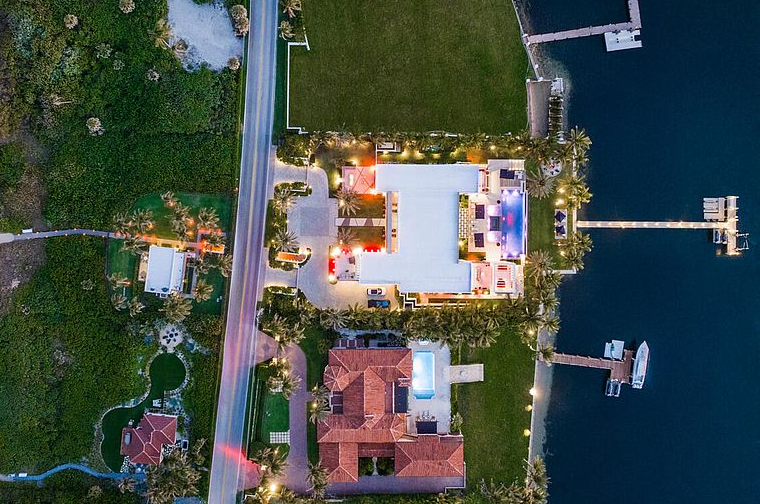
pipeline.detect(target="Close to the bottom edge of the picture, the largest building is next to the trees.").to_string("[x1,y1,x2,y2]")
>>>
[317,338,464,482]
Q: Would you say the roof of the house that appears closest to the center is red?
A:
No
